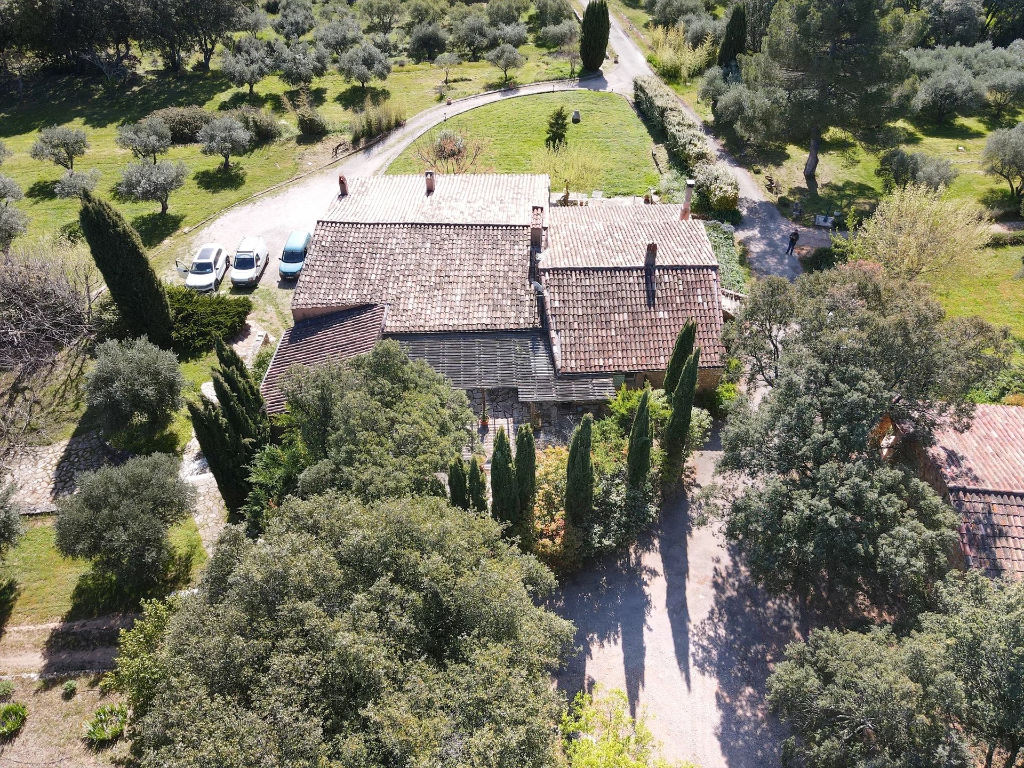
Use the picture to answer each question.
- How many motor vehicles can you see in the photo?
3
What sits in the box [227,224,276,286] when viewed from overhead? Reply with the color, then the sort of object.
white van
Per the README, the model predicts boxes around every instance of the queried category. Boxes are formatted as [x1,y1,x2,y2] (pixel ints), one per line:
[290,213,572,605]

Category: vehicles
[172,244,233,295]
[227,224,276,286]
[275,220,312,278]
